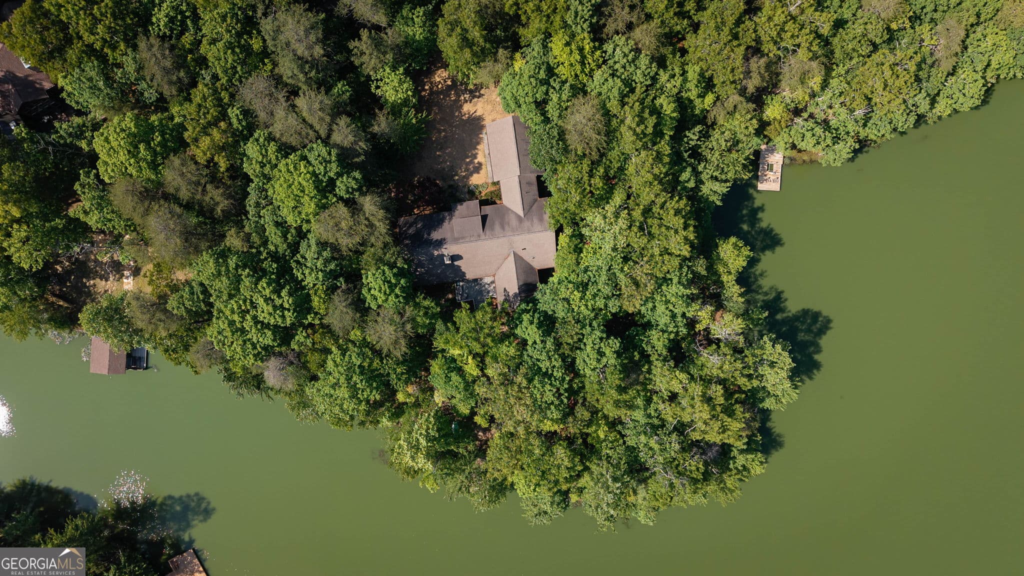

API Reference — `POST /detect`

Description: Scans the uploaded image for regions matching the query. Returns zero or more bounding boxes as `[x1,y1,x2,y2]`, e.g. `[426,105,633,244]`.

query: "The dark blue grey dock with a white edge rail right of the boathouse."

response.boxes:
[126,340,149,371]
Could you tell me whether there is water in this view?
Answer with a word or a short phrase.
Yes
